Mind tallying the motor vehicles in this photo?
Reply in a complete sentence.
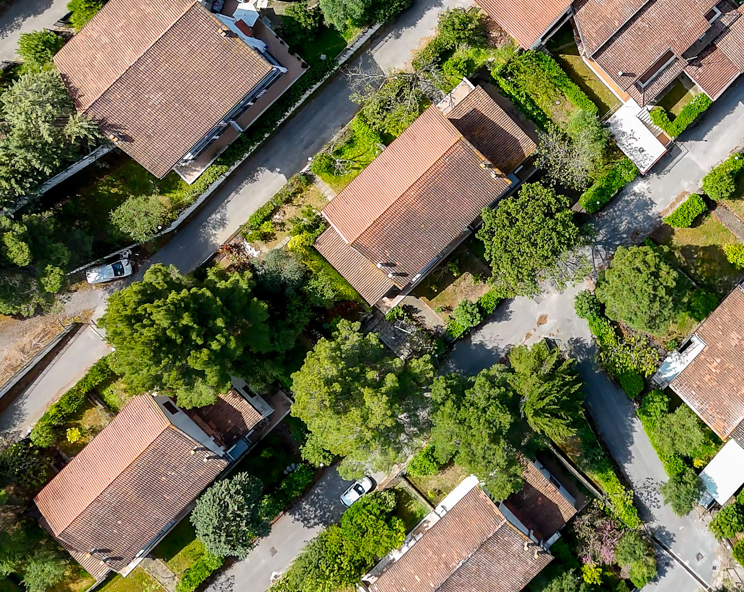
The photo contains 2 motor vehicles.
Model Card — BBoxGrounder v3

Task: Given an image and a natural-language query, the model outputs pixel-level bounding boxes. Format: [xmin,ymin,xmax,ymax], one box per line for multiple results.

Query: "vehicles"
[84,259,133,288]
[336,473,375,507]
